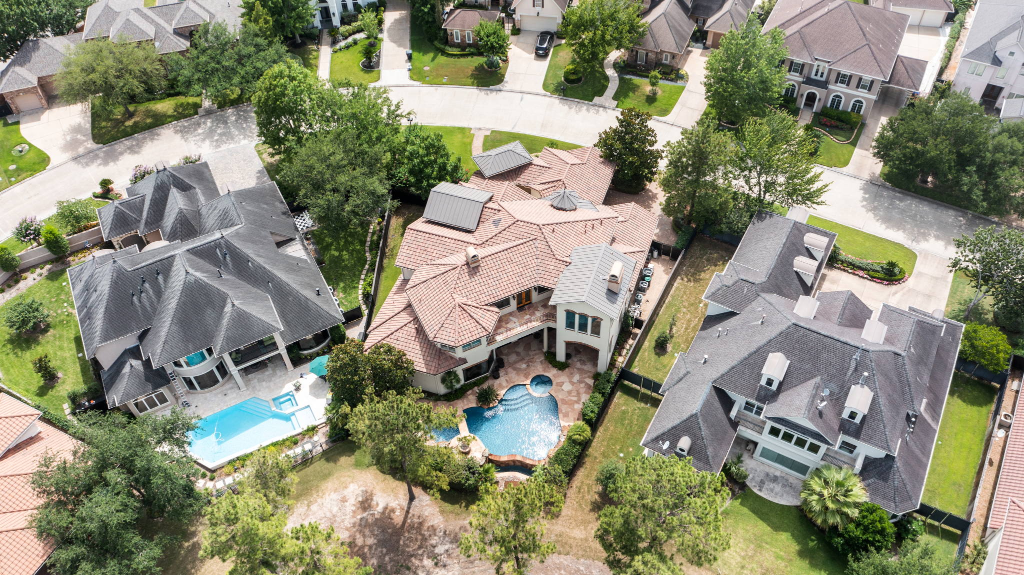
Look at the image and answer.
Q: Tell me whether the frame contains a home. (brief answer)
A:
Yes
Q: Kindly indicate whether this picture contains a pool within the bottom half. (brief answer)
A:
Yes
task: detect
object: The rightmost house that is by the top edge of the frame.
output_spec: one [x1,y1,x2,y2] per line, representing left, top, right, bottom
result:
[953,0,1024,137]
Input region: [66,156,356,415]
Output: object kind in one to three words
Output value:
house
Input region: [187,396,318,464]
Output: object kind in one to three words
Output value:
swimming pool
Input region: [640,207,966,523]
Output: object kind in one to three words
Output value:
house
